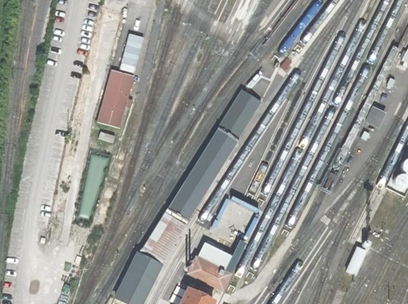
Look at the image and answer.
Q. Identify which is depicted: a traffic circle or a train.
train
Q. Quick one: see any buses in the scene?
Yes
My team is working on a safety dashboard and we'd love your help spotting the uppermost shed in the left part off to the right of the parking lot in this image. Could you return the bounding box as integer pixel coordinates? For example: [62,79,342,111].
[119,32,142,73]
